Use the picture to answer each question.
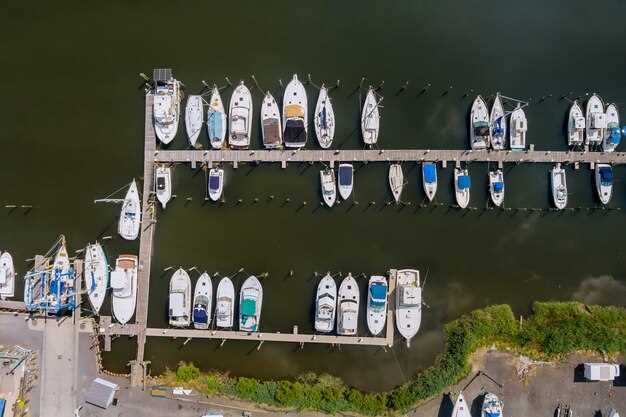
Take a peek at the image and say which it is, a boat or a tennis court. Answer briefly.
boat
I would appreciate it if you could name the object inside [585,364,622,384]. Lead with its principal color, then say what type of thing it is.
white vehicle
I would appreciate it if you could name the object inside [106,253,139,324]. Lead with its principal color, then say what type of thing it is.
white boat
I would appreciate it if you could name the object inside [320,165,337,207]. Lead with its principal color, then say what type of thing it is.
white boat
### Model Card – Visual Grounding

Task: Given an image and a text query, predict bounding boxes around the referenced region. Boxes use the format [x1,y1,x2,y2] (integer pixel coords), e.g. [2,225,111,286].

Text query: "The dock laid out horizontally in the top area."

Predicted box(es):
[155,143,626,170]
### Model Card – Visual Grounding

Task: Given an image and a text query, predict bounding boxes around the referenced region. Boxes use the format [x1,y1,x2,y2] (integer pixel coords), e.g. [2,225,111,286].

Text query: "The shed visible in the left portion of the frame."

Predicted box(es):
[87,377,119,409]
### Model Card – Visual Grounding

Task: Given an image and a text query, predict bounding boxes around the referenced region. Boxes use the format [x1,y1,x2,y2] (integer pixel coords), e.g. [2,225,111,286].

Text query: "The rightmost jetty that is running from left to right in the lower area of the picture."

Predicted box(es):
[147,323,386,348]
